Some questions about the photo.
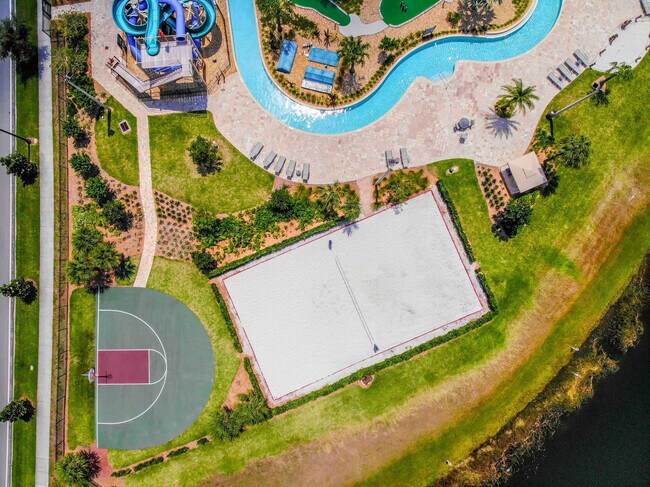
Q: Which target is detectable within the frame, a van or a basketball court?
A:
basketball court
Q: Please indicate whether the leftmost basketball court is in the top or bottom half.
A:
bottom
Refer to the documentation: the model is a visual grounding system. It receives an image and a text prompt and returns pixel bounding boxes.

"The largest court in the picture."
[214,183,491,410]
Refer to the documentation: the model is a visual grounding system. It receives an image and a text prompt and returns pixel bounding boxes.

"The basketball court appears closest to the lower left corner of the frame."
[95,287,213,450]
